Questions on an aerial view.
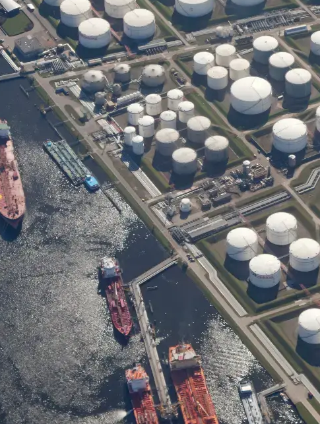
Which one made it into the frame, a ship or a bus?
ship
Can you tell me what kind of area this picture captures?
industrial area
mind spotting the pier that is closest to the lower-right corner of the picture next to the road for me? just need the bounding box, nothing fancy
[257,381,288,424]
